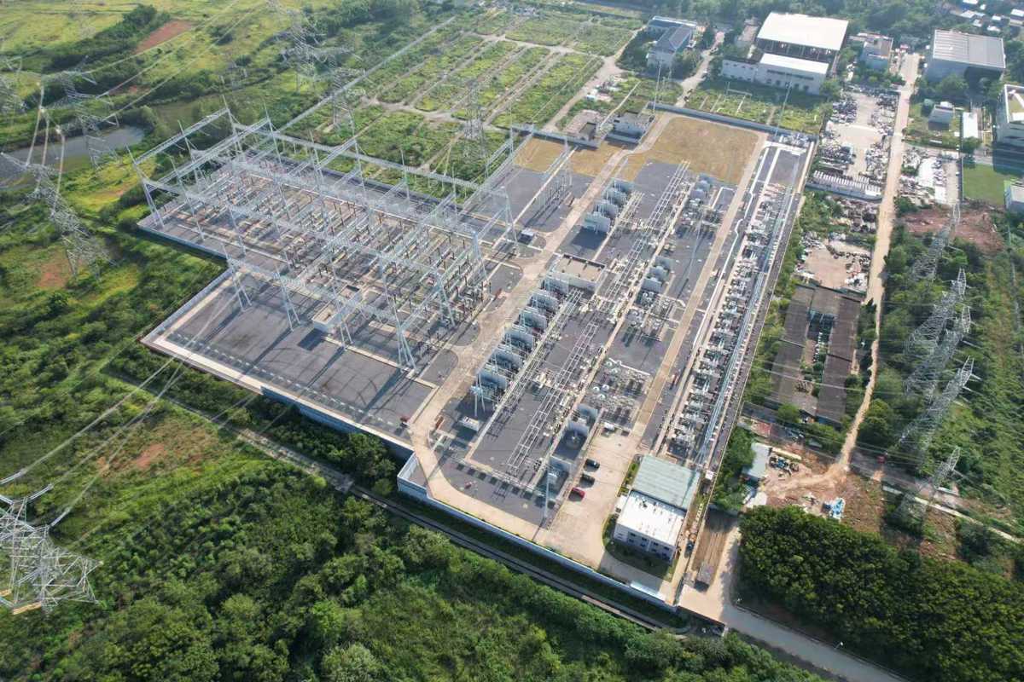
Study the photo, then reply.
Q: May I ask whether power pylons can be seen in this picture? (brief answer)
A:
Yes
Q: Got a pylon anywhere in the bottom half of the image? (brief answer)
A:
Yes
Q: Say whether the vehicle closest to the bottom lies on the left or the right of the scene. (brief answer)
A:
right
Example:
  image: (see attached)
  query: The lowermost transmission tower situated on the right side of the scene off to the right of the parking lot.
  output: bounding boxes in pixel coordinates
[880,447,959,534]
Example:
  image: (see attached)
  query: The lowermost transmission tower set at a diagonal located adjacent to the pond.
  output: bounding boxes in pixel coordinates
[23,170,135,287]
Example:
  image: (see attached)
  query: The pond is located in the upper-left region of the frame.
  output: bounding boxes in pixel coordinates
[0,128,142,180]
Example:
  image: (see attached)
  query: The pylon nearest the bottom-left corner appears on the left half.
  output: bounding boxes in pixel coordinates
[0,480,116,621]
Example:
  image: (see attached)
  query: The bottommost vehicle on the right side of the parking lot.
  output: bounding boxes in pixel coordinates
[697,558,717,588]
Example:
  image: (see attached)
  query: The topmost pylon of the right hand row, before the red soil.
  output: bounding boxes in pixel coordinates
[899,205,957,292]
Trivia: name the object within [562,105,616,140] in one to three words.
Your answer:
house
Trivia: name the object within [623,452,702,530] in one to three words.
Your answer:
building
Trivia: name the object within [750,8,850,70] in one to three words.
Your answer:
building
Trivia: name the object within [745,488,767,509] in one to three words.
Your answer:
shed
